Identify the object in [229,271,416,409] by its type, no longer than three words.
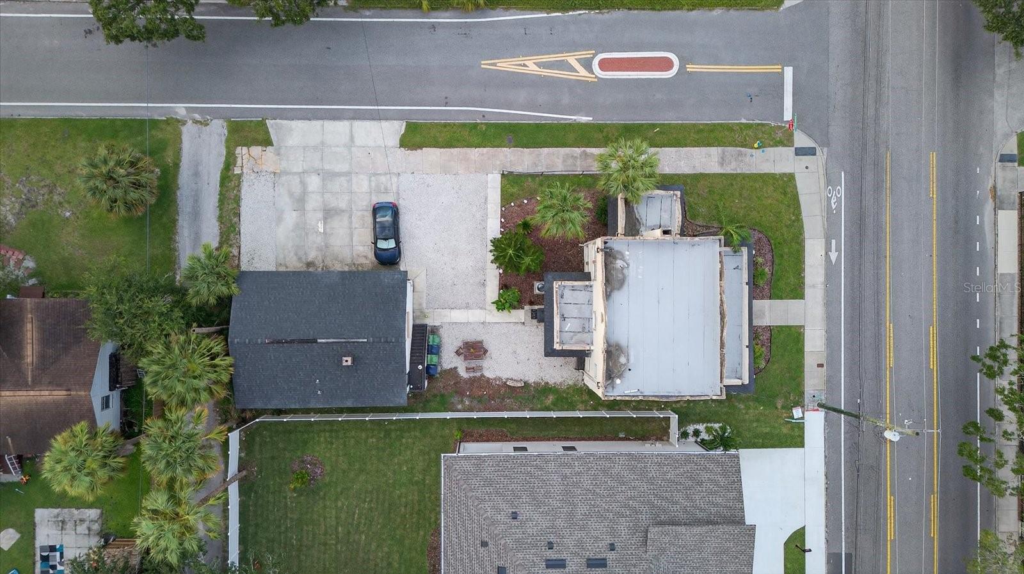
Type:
shed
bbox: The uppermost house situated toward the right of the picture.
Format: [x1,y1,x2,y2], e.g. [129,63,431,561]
[543,185,752,400]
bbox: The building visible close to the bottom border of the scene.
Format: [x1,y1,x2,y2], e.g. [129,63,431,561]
[439,439,755,574]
